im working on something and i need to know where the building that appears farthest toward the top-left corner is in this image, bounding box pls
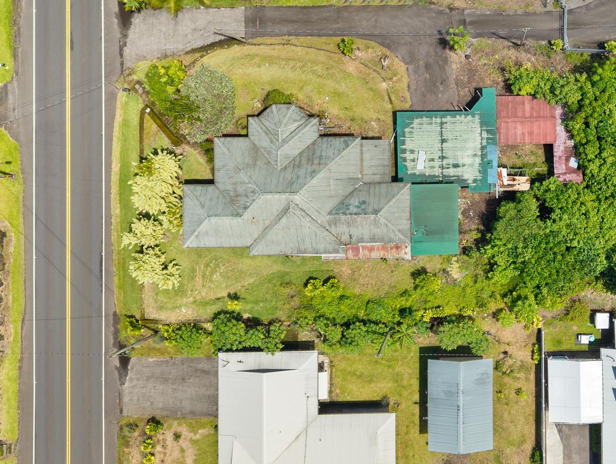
[183,104,412,260]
